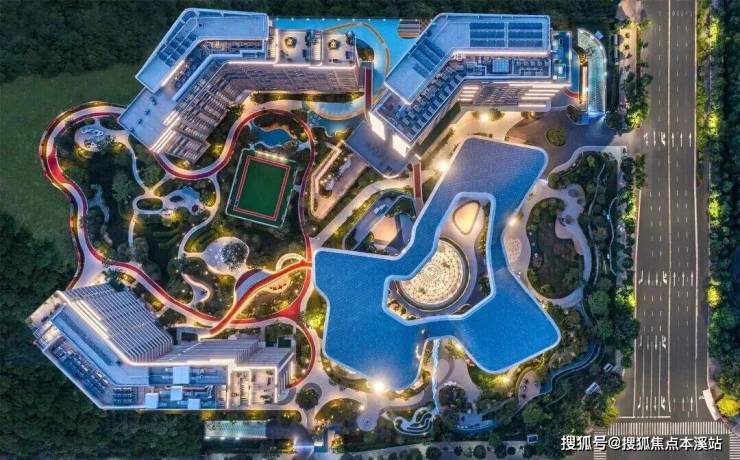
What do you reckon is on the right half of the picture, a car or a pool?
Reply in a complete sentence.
What appears on the right half of the picture is a pool.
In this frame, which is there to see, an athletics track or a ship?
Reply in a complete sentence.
Looking from above, you can make out an athletics track.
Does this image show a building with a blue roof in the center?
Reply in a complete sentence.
Yes, I can see a building with a blue roof in the center.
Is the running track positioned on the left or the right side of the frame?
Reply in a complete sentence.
It is on the left.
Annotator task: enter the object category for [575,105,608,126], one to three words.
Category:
swimming pool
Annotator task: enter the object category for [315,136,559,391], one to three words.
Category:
building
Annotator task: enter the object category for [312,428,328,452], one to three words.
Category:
building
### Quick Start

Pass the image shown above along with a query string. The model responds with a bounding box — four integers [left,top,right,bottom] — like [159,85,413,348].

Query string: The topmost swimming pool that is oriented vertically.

[569,47,581,95]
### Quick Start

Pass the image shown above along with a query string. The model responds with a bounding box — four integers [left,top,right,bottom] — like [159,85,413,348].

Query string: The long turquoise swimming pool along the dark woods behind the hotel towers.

[270,16,436,103]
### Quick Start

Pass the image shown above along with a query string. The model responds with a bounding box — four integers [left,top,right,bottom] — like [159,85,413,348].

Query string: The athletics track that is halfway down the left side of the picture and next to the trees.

[42,104,317,386]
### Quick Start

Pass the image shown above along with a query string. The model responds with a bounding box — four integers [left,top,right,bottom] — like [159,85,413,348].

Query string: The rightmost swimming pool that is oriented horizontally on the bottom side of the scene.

[454,418,502,433]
